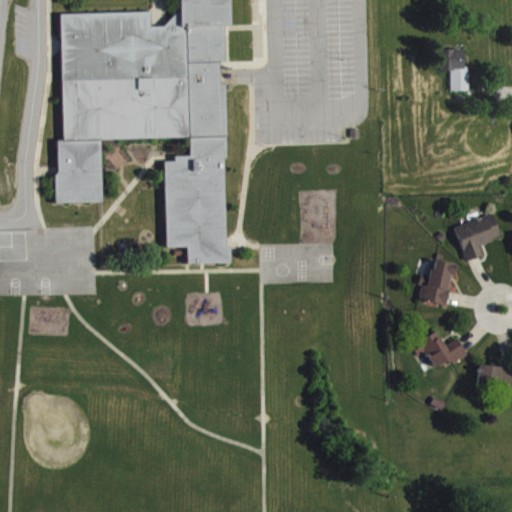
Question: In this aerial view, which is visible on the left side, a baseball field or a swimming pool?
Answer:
baseball field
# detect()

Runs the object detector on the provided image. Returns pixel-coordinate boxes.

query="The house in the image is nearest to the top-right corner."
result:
[448,49,470,92]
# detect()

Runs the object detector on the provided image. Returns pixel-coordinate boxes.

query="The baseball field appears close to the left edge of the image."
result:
[22,391,90,468]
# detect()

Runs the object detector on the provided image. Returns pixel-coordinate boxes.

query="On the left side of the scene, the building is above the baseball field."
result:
[54,0,232,263]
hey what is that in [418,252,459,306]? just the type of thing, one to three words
house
